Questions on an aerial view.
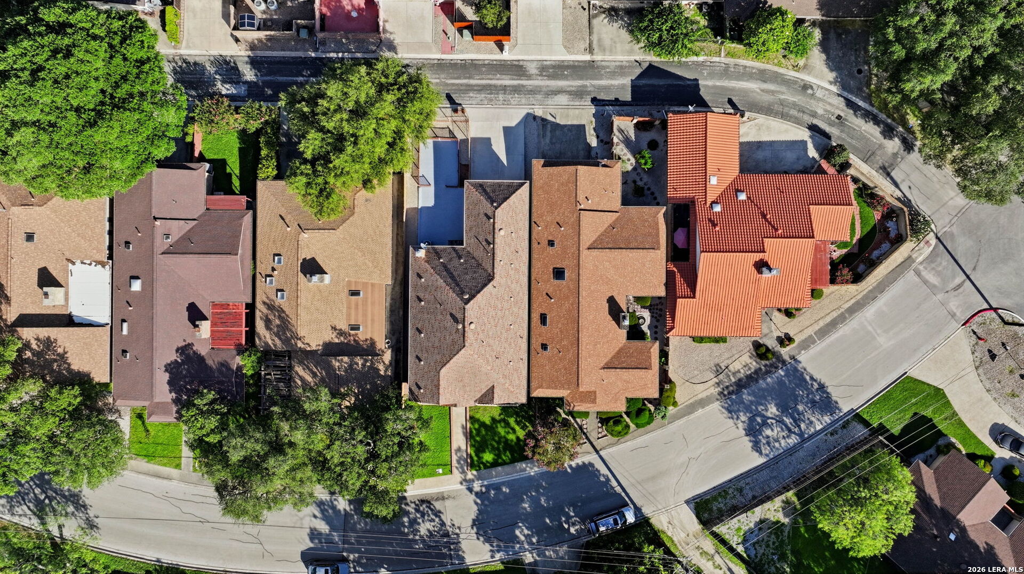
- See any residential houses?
Yes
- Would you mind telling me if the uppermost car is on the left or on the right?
right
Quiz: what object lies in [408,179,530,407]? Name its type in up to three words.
house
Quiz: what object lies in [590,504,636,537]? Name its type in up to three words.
car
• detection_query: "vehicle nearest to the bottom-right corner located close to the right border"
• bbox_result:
[994,434,1024,462]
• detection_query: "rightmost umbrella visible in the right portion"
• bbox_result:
[671,229,691,248]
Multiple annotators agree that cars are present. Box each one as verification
[307,561,351,574]
[994,434,1024,462]
[590,504,636,537]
